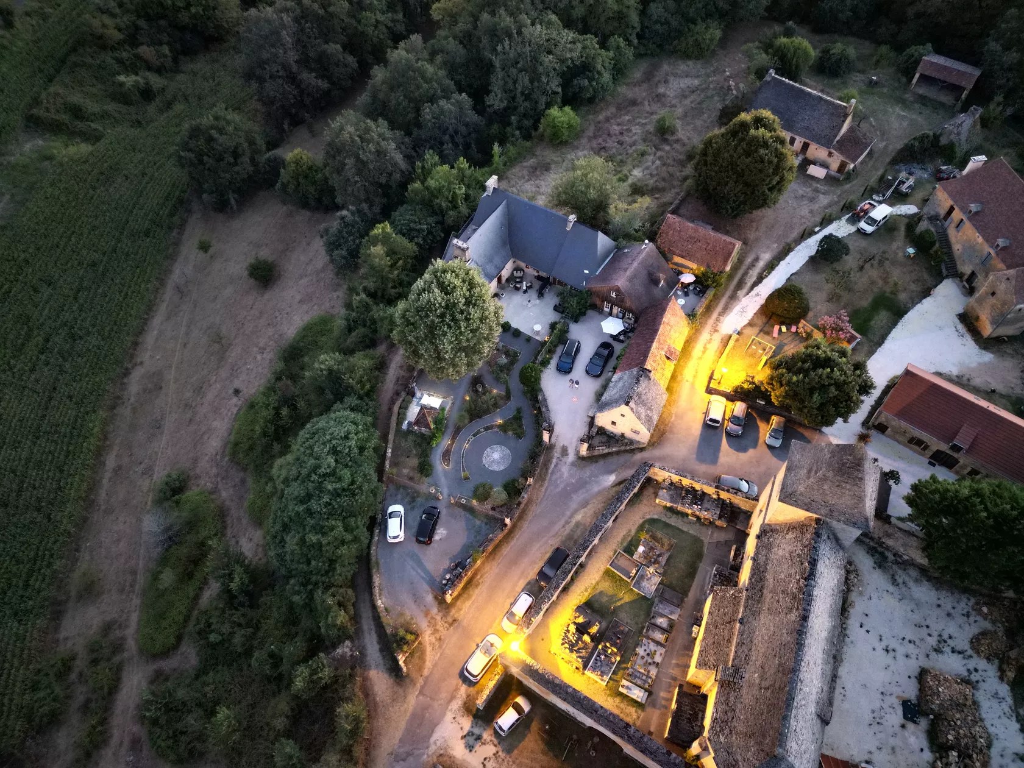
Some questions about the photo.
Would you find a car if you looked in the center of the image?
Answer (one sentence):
Yes, a car is visible in the center of the image.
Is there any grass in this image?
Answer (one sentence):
Yes, some grass is visible.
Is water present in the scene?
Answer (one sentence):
No, there's no water in this view.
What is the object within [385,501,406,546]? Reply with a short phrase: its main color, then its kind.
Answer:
white car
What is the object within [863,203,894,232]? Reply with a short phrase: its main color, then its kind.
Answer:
white car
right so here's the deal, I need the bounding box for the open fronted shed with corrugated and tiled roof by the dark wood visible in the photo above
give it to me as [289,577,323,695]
[912,49,985,105]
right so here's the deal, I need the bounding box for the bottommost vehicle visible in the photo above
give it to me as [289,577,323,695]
[490,691,535,741]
